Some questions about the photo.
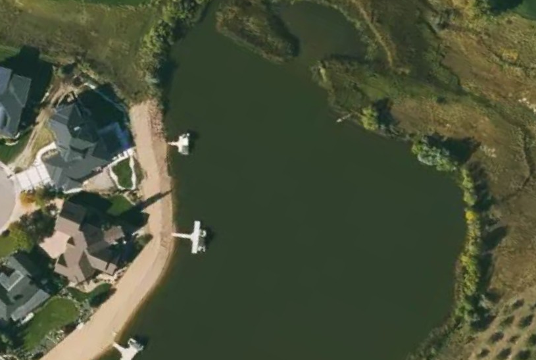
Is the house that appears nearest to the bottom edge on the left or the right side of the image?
left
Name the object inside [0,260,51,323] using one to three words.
house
